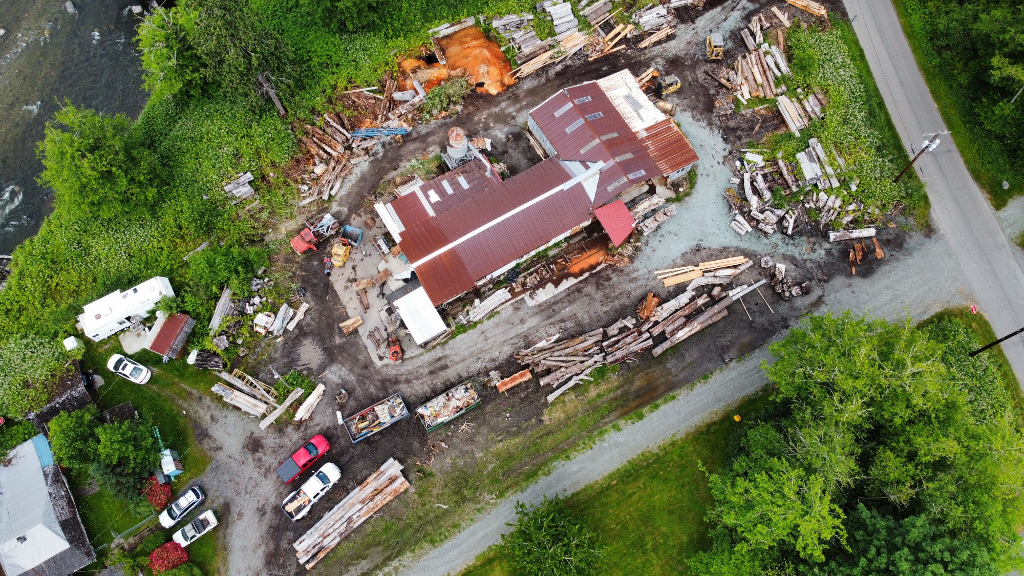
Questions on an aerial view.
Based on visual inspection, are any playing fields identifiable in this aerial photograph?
No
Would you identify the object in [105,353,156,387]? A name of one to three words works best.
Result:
car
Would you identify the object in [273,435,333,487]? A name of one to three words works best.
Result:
truck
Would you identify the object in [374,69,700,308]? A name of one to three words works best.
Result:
building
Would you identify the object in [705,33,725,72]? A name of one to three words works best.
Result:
work vehicle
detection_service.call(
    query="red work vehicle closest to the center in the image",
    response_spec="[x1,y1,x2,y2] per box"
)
[385,335,405,363]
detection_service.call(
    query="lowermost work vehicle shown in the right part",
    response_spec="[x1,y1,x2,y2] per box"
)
[649,74,684,100]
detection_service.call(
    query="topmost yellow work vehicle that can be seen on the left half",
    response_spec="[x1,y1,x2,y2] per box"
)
[328,238,353,269]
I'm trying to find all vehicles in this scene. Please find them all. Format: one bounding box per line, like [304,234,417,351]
[80,371,99,394]
[290,215,342,258]
[328,238,353,269]
[278,464,344,523]
[705,33,725,72]
[273,435,333,487]
[105,353,156,387]
[174,507,221,548]
[649,74,684,100]
[385,335,405,363]
[158,484,206,530]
